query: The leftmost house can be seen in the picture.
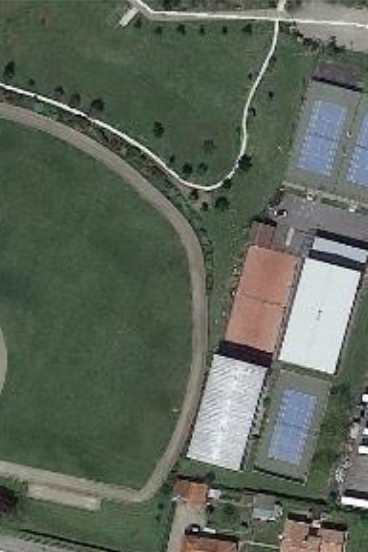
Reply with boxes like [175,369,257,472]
[174,480,207,502]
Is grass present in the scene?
Yes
